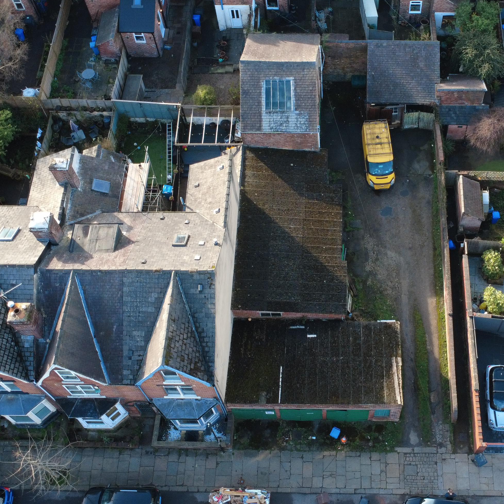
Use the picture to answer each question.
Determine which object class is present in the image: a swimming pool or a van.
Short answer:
van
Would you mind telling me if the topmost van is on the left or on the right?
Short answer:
right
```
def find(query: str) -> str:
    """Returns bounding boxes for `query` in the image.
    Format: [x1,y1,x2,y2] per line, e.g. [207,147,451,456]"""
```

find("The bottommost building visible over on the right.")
[224,320,402,420]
